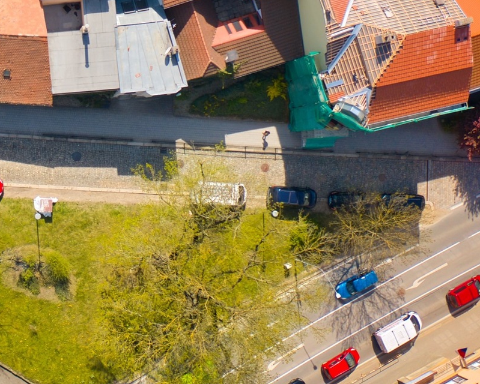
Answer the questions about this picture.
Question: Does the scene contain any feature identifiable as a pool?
No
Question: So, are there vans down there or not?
Yes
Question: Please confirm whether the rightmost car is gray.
No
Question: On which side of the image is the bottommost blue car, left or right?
right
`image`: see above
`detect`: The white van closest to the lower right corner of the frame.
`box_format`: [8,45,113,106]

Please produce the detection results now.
[365,310,430,358]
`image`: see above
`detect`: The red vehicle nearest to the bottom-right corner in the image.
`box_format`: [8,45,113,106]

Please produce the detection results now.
[441,274,480,312]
